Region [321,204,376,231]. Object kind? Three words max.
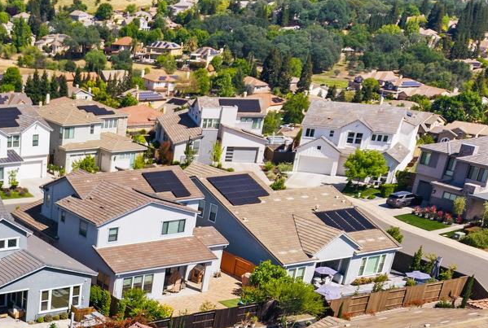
solar array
